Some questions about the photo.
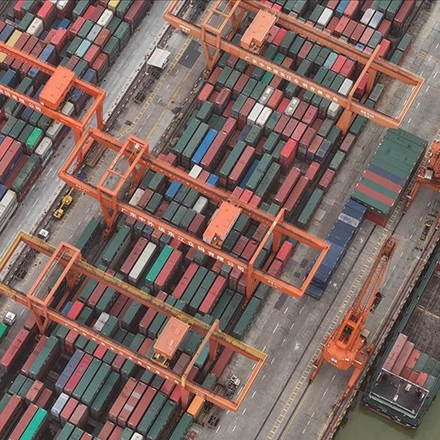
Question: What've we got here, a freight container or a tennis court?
freight container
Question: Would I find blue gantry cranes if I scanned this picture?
No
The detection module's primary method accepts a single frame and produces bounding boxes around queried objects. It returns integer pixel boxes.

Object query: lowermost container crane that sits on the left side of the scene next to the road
[0,230,269,416]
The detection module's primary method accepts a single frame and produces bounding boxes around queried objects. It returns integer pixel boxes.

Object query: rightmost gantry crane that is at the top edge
[162,0,425,140]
